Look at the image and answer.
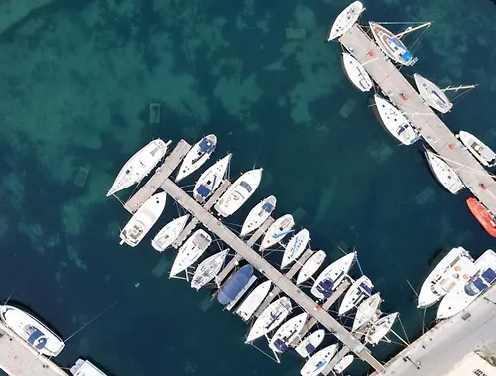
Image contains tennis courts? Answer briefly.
No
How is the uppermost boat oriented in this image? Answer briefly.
at an angle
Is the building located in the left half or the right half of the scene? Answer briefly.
right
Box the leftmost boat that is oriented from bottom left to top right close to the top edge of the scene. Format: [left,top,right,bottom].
[327,3,370,40]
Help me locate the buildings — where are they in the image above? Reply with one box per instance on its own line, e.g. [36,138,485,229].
[456,351,496,376]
